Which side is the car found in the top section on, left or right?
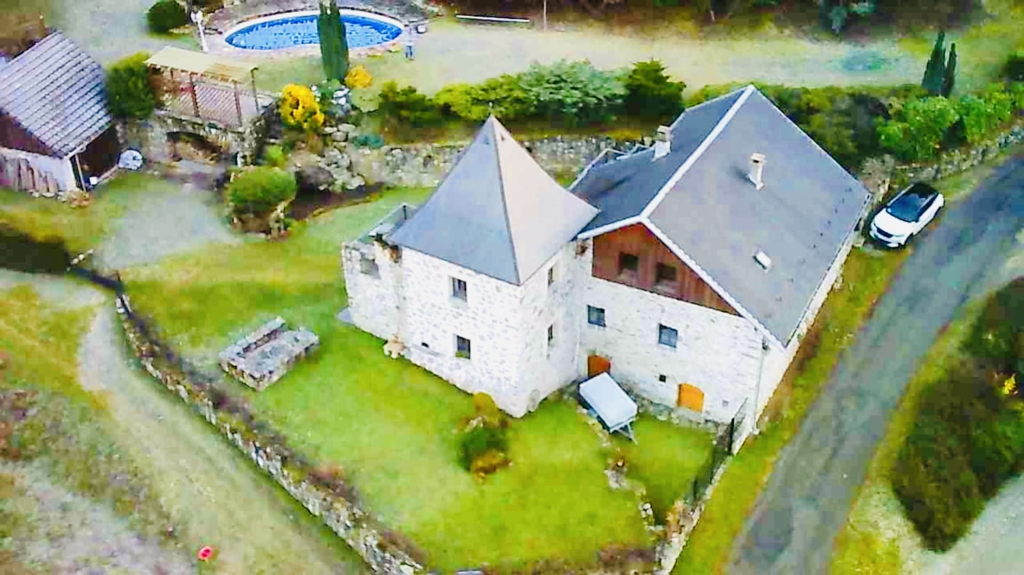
right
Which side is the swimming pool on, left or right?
left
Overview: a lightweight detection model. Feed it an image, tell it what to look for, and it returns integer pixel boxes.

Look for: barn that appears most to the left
[0,37,127,197]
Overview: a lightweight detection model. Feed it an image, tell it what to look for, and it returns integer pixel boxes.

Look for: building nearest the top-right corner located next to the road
[569,85,874,433]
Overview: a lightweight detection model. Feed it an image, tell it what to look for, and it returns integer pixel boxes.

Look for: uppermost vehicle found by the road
[867,180,946,248]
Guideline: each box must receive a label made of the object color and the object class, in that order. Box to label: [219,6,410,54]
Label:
blue swimming pool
